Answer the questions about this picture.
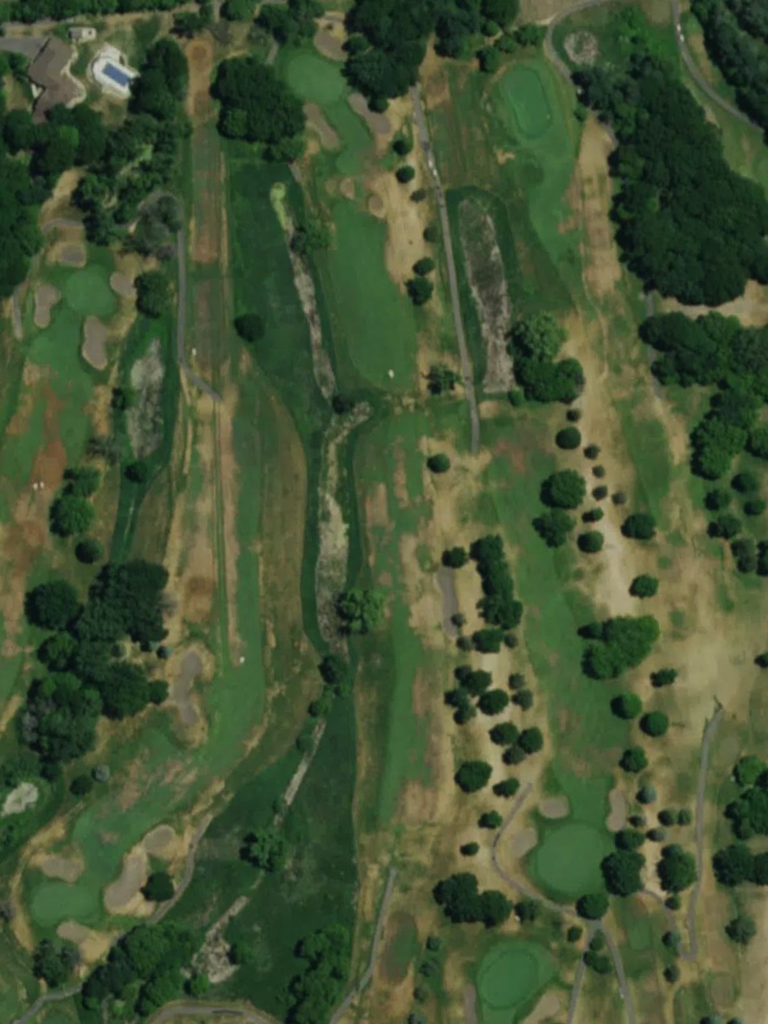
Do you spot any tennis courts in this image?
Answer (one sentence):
No, there is no tennis court in the image.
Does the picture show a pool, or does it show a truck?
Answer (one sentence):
The image shows a pool.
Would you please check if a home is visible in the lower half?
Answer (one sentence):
No, no home appears in the lower half.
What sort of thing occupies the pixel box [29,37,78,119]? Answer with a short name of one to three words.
house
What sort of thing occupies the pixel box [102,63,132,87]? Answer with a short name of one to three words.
swimming pool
